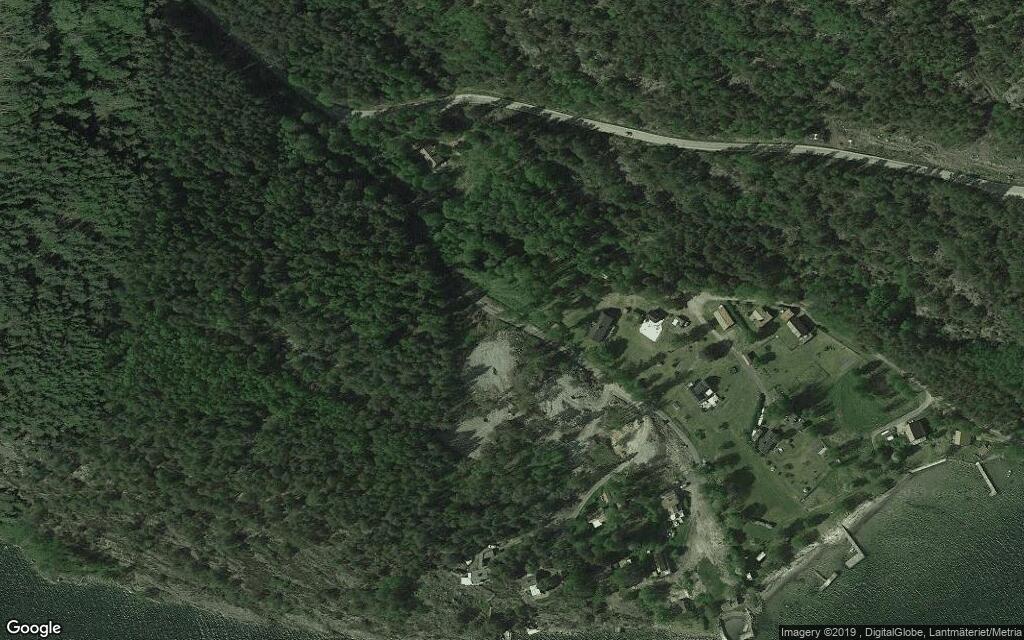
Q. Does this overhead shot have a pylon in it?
No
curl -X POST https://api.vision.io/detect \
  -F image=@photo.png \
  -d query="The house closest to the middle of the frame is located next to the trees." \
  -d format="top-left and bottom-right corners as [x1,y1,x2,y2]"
[590,311,615,339]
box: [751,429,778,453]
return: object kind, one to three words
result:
house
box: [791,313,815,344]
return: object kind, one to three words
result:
house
